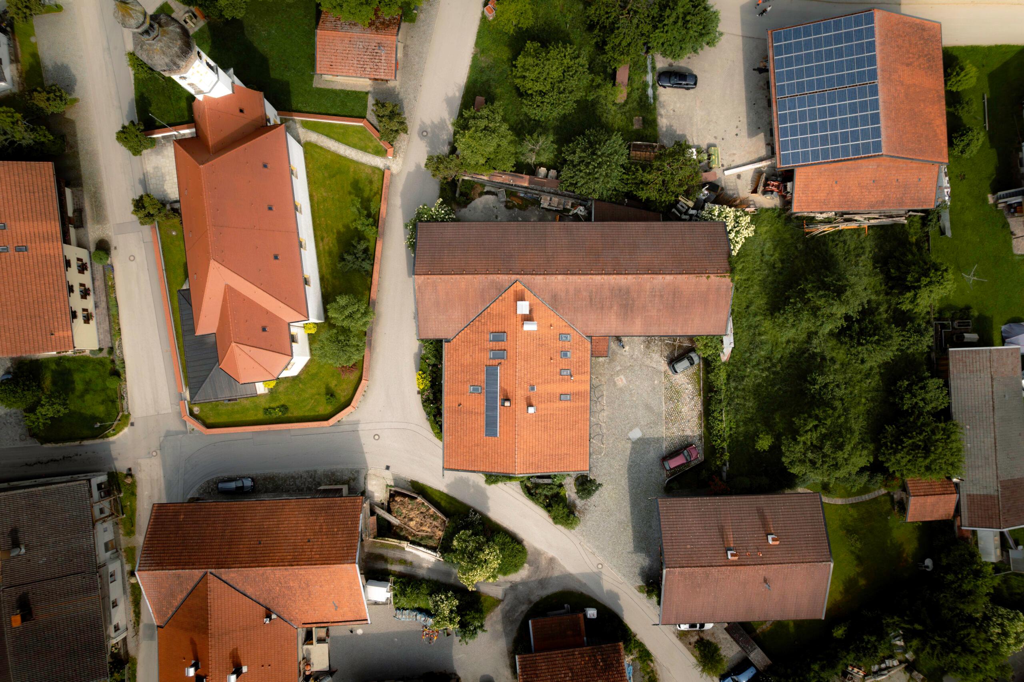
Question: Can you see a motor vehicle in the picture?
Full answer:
Yes, looking at the shot, I can spot a motor vehicle.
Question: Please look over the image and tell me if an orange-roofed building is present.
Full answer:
Yes, there's an orange-roofed building down there.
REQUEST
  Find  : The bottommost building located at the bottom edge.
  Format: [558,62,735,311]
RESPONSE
[516,608,634,682]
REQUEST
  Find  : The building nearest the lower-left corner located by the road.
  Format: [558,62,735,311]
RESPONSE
[0,477,132,682]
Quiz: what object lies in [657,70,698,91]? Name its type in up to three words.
car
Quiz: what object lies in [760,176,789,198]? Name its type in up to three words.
work vehicle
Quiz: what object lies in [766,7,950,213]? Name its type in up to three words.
barn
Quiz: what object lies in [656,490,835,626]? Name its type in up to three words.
house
